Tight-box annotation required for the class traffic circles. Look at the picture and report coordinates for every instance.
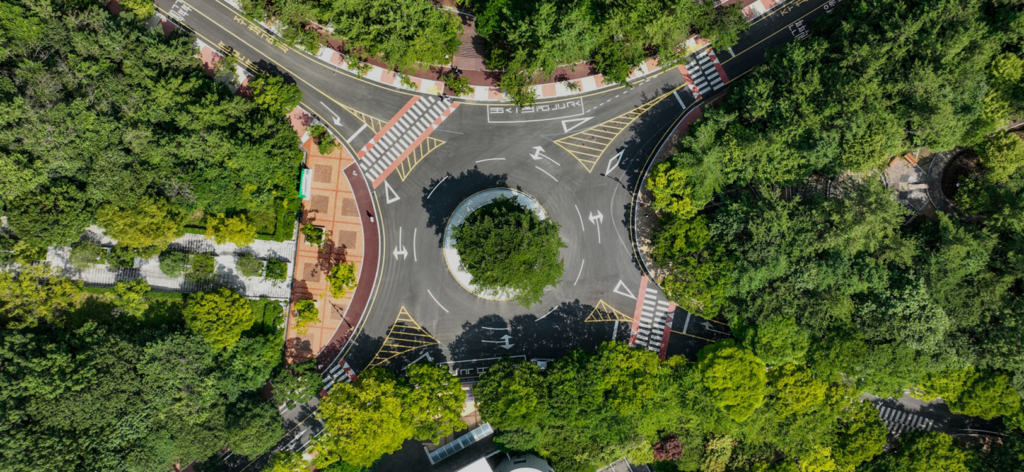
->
[383,126,619,362]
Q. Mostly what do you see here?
trees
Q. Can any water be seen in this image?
No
